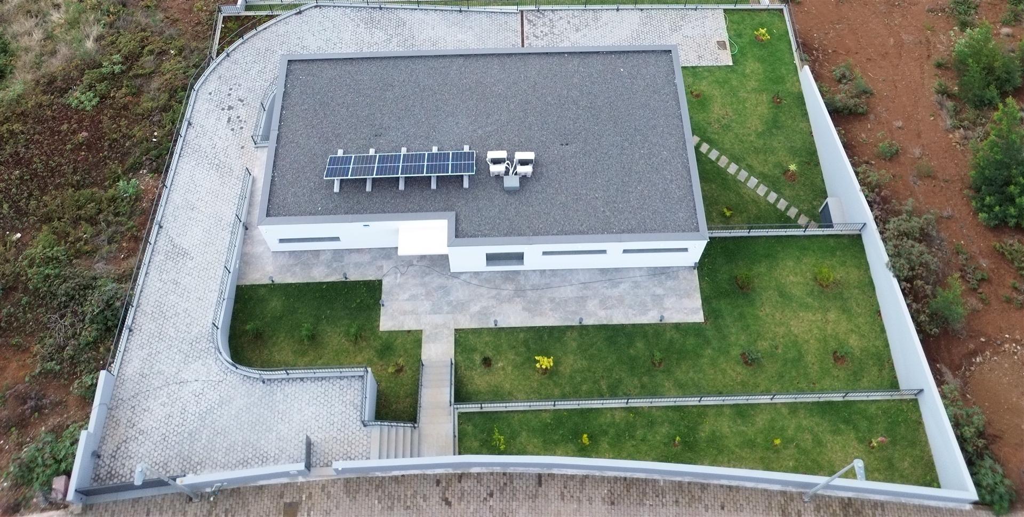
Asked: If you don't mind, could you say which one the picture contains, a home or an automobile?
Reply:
home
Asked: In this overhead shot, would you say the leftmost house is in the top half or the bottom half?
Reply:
top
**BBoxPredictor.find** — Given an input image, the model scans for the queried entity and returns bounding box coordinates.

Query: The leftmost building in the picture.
[259,45,708,274]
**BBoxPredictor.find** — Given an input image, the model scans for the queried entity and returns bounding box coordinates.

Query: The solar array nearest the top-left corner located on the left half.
[324,146,476,194]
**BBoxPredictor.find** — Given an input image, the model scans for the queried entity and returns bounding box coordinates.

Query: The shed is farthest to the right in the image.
[821,196,848,228]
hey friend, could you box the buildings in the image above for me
[821,196,848,228]
[259,45,708,274]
